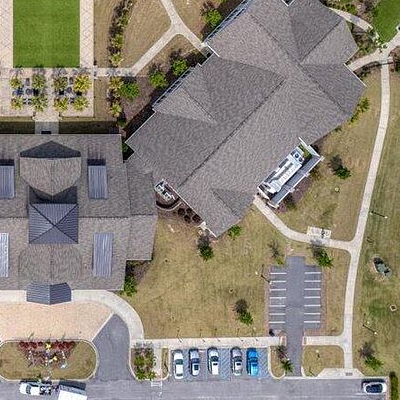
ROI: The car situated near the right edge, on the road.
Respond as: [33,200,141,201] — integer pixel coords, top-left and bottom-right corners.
[362,380,387,394]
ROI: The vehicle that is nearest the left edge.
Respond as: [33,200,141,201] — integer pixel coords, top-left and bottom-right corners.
[18,381,50,395]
